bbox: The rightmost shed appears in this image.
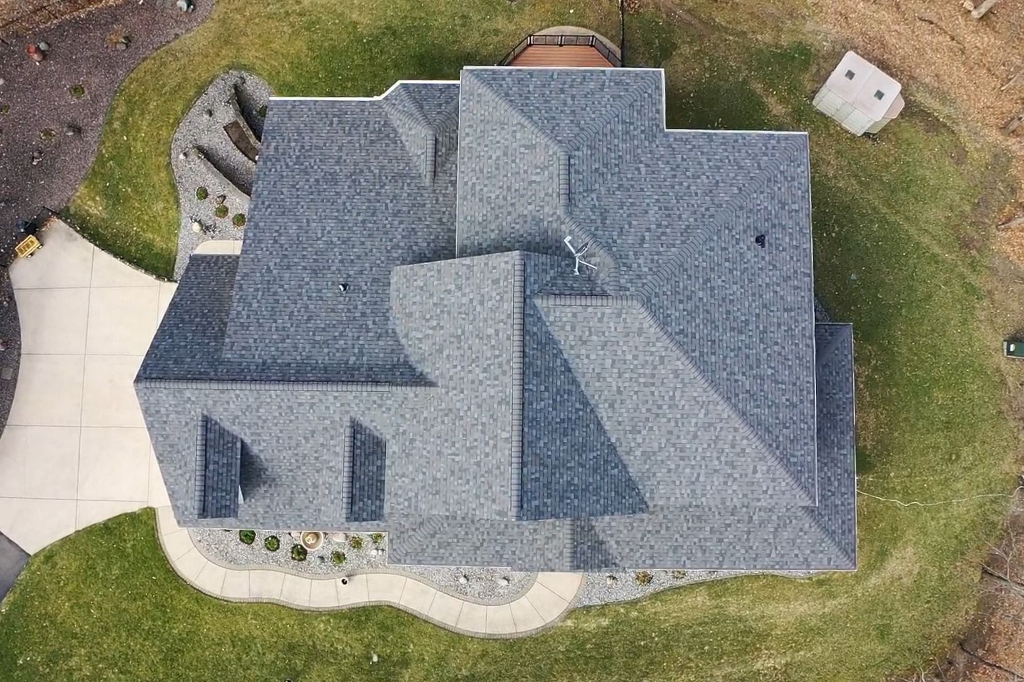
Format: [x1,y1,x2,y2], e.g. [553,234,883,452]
[810,51,902,136]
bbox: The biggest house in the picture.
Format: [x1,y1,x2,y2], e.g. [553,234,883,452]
[133,64,859,573]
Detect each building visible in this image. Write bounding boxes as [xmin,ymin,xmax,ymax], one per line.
[810,51,902,136]
[133,64,859,573]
